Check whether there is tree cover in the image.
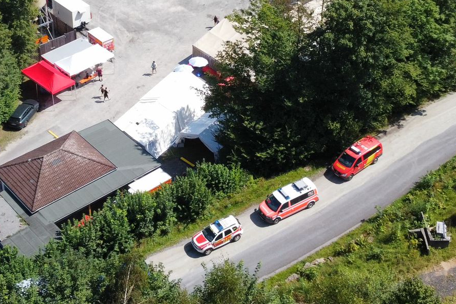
Yes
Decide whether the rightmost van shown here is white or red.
red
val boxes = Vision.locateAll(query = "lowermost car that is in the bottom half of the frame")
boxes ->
[188,210,246,256]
